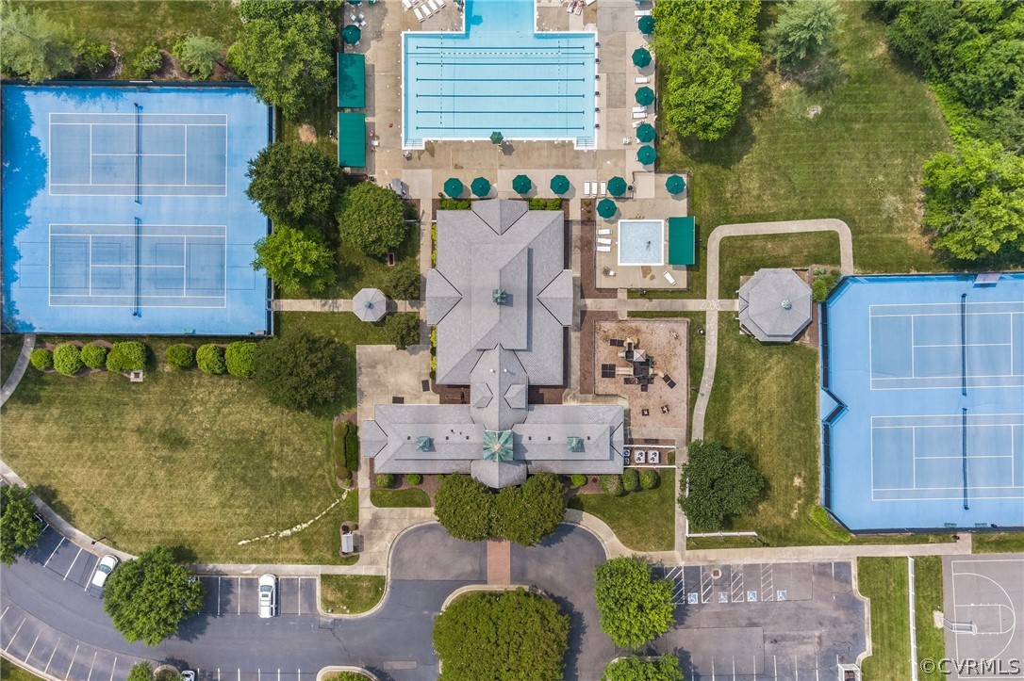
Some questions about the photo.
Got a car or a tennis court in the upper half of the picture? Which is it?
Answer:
tennis court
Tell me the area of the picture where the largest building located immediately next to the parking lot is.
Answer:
center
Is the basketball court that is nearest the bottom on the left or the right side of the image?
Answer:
right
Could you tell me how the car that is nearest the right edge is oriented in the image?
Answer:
up and down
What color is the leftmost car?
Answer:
white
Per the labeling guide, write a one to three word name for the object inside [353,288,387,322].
gazebo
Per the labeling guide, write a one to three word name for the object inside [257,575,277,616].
car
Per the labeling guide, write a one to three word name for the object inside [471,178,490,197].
umbrella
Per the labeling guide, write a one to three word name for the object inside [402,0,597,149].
swimming pool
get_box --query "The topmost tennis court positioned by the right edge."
[870,295,1024,395]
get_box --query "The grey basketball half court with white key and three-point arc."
[952,560,1024,679]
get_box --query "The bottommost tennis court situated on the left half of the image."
[20,216,256,314]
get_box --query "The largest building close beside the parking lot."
[363,199,625,488]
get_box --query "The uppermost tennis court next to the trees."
[49,101,227,205]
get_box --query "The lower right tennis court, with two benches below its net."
[871,408,1024,508]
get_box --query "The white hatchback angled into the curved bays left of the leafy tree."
[89,553,118,591]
